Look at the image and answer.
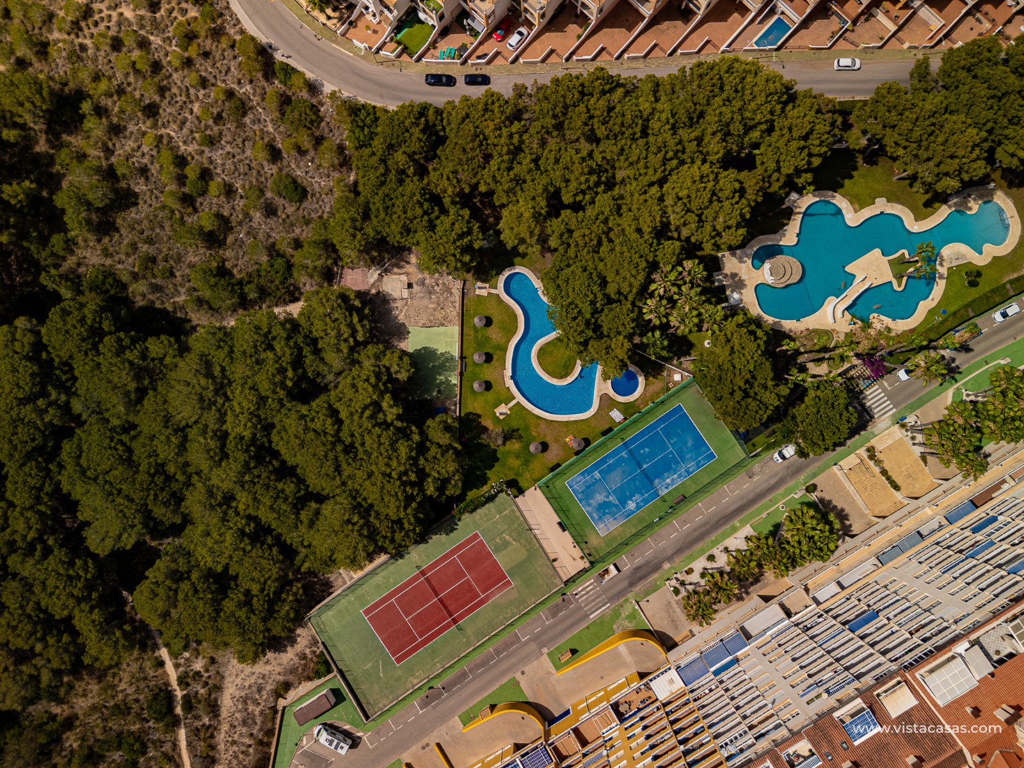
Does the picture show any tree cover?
Yes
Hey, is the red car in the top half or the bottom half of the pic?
top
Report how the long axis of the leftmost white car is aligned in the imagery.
on a diagonal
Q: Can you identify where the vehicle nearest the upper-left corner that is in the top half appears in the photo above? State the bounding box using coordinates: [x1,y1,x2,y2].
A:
[425,73,455,88]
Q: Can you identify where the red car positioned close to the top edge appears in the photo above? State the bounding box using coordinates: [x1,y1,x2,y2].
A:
[493,19,513,44]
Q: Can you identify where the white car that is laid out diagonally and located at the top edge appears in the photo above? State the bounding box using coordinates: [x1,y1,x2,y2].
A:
[506,27,528,53]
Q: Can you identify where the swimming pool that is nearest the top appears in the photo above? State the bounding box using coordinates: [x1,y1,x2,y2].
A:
[752,14,793,47]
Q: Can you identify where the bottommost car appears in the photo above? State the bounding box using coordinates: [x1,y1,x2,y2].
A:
[771,445,799,464]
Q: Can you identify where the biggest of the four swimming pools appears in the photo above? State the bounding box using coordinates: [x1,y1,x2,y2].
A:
[714,189,1021,333]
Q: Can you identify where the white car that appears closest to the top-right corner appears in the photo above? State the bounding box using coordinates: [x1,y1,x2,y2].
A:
[832,57,859,72]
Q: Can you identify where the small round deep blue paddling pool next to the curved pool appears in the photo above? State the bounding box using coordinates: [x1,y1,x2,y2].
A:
[605,363,645,403]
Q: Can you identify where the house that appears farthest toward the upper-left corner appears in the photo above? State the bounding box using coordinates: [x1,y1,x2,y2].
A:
[378,0,420,28]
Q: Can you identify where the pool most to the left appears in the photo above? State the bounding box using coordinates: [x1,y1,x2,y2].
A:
[498,266,608,421]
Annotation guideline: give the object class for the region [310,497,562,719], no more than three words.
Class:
tennis court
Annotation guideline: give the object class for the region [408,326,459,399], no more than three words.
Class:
sports court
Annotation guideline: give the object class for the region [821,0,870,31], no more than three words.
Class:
house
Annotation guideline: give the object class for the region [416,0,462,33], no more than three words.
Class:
house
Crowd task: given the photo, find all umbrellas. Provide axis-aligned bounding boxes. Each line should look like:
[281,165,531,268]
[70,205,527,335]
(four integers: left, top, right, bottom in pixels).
[572,437,585,450]
[530,442,542,454]
[473,315,485,327]
[473,351,485,363]
[473,379,485,392]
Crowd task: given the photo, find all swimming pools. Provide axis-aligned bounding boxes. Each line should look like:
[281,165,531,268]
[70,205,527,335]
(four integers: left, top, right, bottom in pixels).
[605,363,645,403]
[752,14,793,47]
[498,266,608,421]
[714,189,1021,333]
